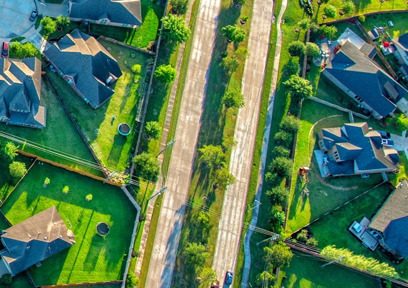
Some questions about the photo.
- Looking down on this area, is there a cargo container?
No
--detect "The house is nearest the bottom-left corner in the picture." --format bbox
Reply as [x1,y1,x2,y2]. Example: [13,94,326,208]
[3,221,75,273]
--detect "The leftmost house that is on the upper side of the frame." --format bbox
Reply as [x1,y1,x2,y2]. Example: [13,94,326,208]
[0,57,47,125]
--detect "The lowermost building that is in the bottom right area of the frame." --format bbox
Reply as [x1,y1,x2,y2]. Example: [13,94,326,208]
[363,184,408,261]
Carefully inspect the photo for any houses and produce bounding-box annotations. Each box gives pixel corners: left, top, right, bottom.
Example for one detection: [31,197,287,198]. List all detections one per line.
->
[0,57,47,125]
[47,31,128,112]
[328,126,399,177]
[363,184,408,261]
[3,221,75,273]
[324,41,408,124]
[65,0,142,29]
